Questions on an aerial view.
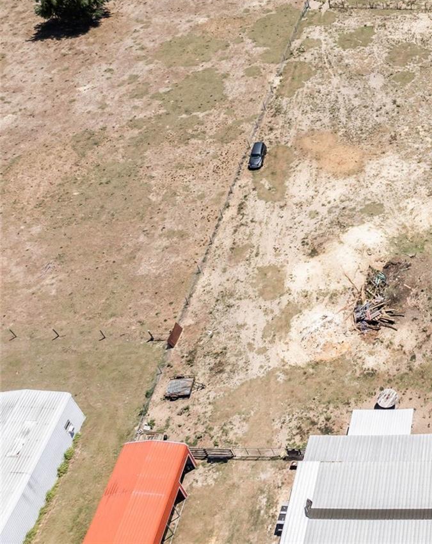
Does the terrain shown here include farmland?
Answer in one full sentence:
Yes, farmland shows up in the scene.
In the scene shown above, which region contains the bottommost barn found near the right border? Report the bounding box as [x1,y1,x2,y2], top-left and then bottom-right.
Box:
[279,436,432,544]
